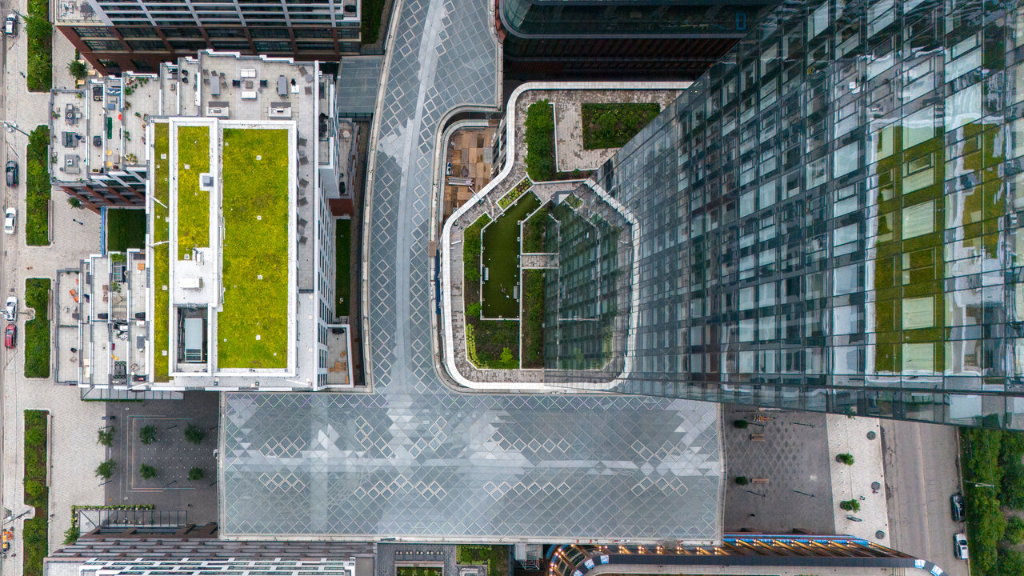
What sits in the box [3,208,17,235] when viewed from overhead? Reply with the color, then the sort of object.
white car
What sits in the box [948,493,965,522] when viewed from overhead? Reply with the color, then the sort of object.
black car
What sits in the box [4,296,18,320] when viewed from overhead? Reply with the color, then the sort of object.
white car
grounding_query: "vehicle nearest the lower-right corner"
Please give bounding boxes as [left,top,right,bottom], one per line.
[951,532,968,560]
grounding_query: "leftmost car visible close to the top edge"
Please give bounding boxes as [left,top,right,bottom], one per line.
[3,11,17,38]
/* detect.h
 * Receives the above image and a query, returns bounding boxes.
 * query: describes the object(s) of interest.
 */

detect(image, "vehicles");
[4,296,18,320]
[951,532,968,560]
[3,11,17,38]
[948,493,965,522]
[3,324,17,348]
[3,208,17,235]
[4,160,19,187]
